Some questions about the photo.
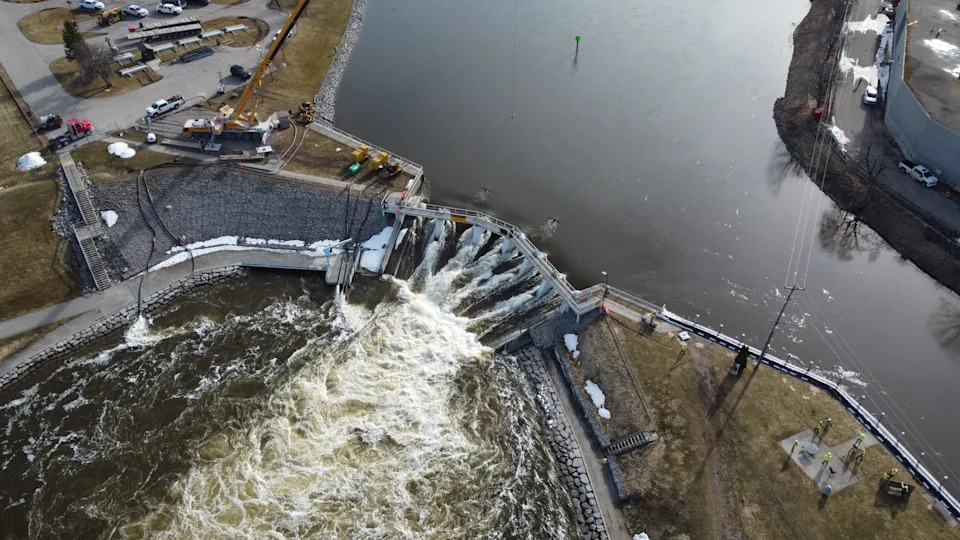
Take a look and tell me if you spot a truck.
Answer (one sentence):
Yes, there is a truck in the image.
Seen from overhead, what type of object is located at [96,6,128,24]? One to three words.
work vehicle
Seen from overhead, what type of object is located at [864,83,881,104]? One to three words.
car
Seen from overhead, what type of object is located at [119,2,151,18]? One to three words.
vehicle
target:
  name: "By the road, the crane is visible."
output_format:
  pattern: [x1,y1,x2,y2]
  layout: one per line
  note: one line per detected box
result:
[184,0,308,144]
